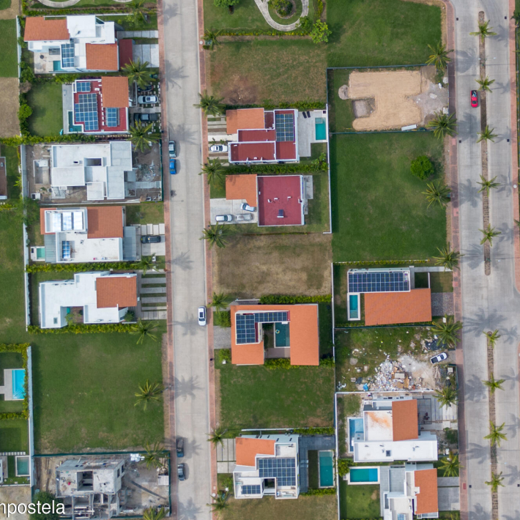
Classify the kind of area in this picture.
residential area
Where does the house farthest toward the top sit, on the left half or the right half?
left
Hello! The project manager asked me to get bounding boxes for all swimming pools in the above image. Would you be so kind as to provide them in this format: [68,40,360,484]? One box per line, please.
[275,323,291,348]
[318,450,334,488]
[34,247,45,261]
[53,60,65,71]
[348,418,364,454]
[68,110,82,132]
[348,467,379,484]
[314,117,326,141]
[348,293,360,321]
[10,369,23,401]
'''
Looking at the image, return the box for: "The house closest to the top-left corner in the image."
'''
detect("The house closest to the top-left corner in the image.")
[24,15,135,73]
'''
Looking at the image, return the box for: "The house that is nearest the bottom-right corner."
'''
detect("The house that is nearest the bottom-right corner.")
[384,460,439,520]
